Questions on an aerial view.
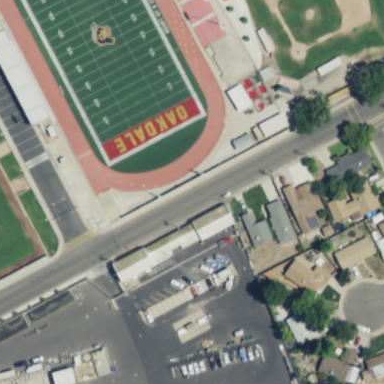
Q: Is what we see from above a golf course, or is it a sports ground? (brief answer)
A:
sports ground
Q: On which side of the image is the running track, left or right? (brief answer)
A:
left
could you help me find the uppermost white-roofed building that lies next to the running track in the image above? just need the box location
[228,83,254,112]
